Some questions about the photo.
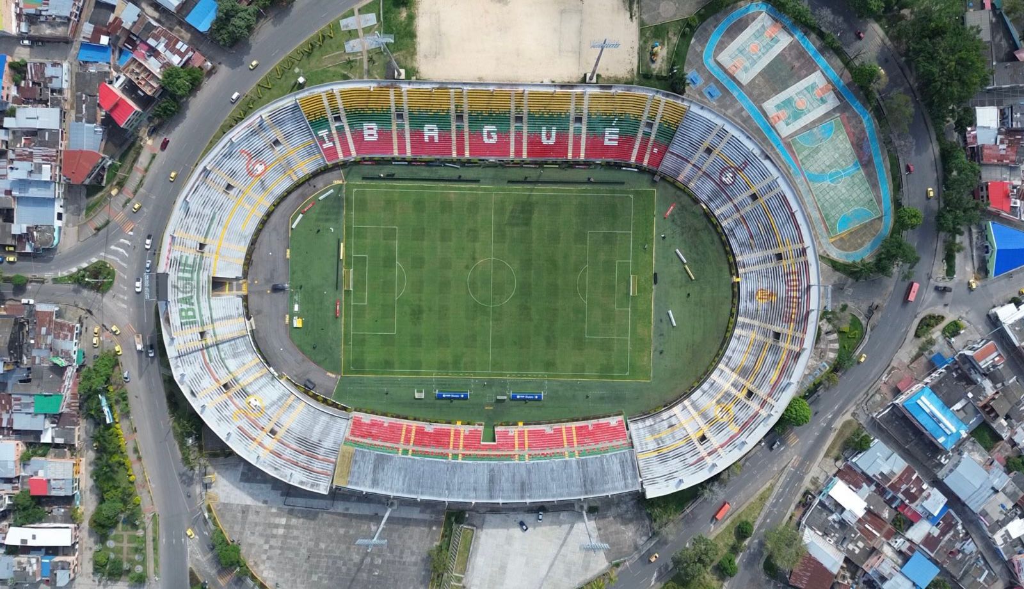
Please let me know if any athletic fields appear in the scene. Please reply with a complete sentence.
Yes, an athletic field can be made out from above.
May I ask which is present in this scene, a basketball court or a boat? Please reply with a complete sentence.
Looking from above, you can make out a basketball court.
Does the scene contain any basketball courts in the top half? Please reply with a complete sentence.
Yes, a basketball court can be seen in the top half.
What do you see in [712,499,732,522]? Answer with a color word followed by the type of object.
red bus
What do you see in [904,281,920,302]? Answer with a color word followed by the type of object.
red vehicle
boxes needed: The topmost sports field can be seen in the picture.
[343,184,655,381]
